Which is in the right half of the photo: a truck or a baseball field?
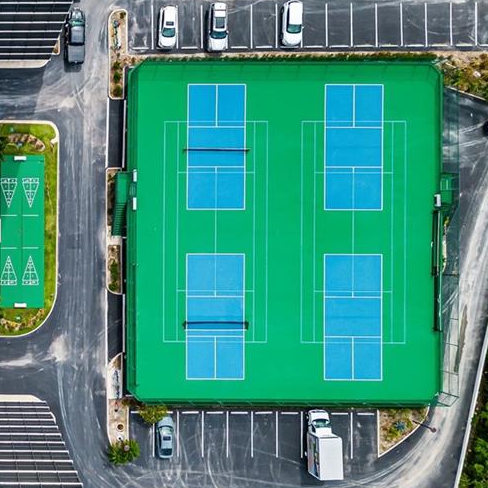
truck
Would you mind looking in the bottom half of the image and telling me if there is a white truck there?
Yes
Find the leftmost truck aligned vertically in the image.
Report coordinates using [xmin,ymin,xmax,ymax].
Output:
[65,9,87,64]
